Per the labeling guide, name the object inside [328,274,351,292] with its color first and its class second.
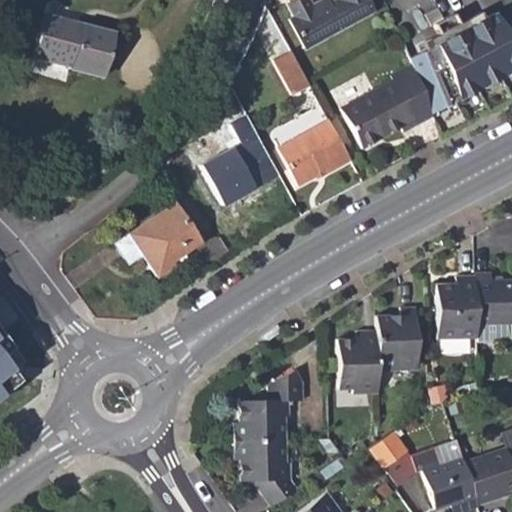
white car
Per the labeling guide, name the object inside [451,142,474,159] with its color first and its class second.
white car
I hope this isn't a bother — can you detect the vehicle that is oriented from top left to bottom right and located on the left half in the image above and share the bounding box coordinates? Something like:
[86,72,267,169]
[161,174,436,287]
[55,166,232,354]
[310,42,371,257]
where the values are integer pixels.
[195,481,214,502]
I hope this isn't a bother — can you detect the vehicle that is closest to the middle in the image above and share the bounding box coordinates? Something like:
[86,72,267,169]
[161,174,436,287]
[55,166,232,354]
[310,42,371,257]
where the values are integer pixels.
[220,272,242,290]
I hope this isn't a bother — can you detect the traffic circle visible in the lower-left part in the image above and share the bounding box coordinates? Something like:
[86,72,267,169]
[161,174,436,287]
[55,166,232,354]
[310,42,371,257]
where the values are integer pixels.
[45,327,190,458]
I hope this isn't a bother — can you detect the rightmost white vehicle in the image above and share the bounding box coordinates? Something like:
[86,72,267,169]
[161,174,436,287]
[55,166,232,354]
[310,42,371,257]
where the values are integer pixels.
[486,120,512,140]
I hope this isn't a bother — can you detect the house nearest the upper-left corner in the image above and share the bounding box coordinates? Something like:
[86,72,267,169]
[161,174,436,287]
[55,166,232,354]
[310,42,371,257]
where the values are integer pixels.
[40,16,119,80]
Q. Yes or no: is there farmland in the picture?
No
